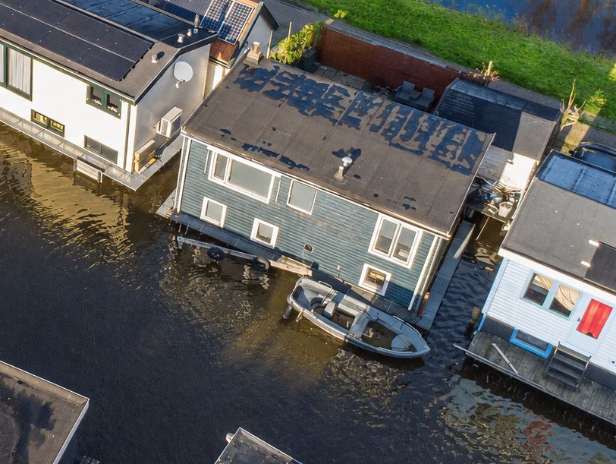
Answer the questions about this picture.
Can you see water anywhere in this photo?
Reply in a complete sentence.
Yes, some water is visible.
